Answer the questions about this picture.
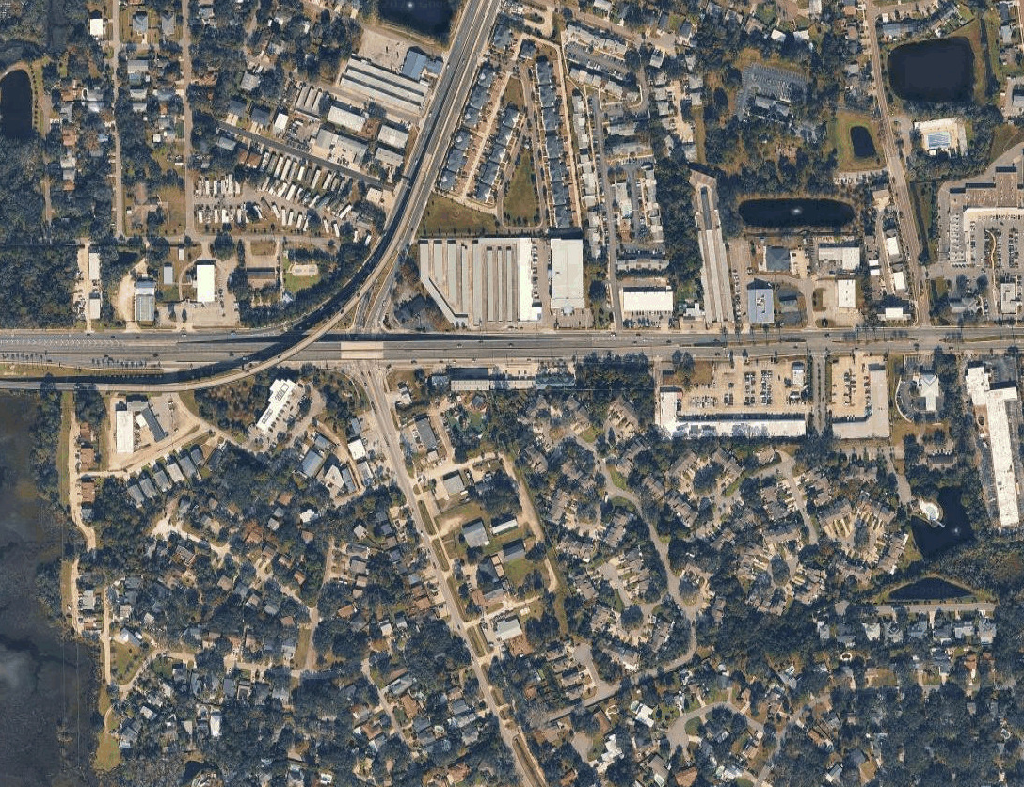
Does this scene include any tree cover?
Yes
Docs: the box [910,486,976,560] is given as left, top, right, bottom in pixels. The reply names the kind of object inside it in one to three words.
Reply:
pond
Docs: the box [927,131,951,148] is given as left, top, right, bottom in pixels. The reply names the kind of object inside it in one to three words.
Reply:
swimming pool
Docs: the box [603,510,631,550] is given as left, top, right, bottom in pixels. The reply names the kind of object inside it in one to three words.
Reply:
building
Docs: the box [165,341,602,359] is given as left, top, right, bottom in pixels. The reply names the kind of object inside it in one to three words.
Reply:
overpass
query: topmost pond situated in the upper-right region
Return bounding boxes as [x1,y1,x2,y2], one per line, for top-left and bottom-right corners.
[888,35,974,103]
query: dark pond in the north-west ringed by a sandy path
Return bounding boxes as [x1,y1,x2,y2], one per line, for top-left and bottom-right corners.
[0,71,32,143]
